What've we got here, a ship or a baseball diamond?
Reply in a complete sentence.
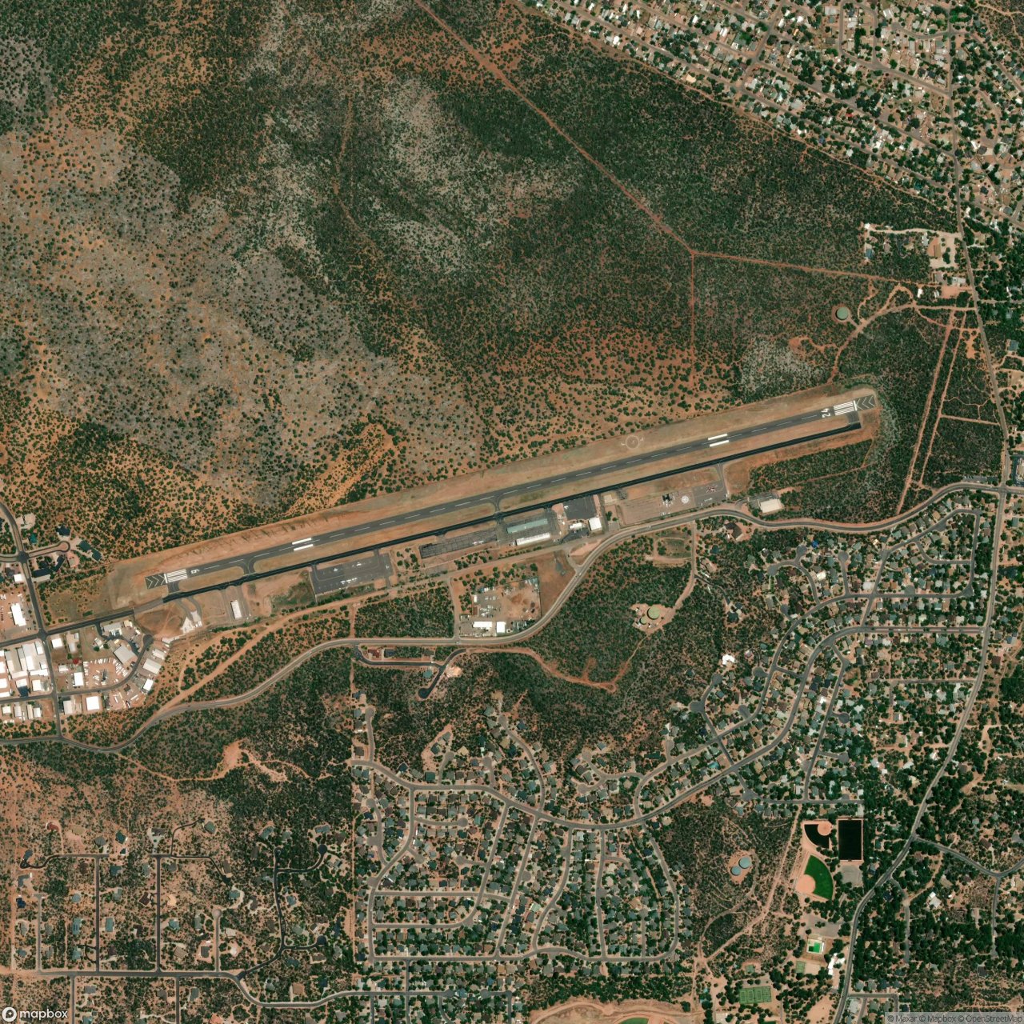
This aerial view contains a baseball diamond.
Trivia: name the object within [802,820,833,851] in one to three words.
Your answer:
baseball field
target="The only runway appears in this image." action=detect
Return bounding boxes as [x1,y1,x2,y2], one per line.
[147,396,873,585]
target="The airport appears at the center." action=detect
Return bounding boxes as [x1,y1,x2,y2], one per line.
[145,394,876,633]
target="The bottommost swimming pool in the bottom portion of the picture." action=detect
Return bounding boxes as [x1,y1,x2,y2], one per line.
[807,939,823,954]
